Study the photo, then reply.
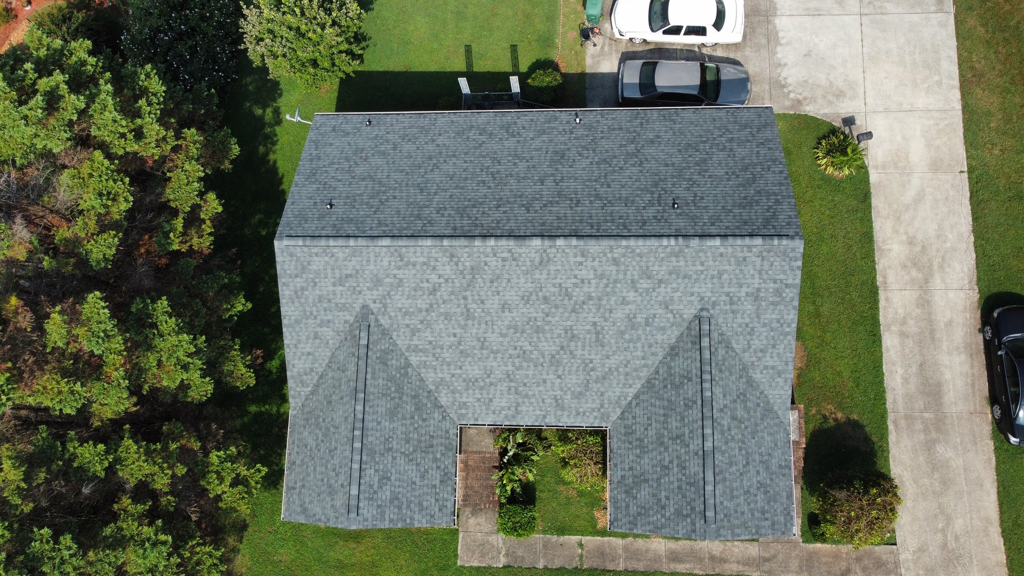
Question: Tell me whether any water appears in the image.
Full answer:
No, the scene doesn't show any water.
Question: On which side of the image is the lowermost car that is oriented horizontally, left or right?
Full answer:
You can find the lowermost car that is oriented horizontally on the right side of the picture.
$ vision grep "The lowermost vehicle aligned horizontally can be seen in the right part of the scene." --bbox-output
[618,54,751,107]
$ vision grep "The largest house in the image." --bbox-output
[275,104,802,541]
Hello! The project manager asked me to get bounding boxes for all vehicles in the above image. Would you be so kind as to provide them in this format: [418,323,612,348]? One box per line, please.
[613,0,749,47]
[618,54,751,107]
[984,305,1024,439]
